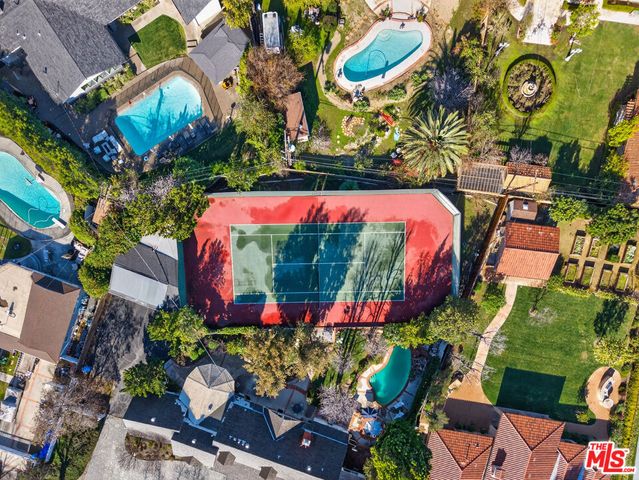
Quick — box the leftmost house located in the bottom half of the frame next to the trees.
[0,262,88,366]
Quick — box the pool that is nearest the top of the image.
[338,24,429,86]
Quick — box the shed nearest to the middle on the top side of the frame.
[286,92,309,149]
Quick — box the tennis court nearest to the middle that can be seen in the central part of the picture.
[185,193,452,326]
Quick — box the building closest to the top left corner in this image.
[0,0,149,102]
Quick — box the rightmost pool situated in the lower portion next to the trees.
[364,337,417,411]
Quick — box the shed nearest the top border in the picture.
[172,0,218,35]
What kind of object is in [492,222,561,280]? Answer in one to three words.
house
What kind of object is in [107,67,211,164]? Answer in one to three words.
swimming pool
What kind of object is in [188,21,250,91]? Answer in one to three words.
building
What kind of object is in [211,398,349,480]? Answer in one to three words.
house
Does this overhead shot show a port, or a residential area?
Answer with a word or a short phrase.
residential area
